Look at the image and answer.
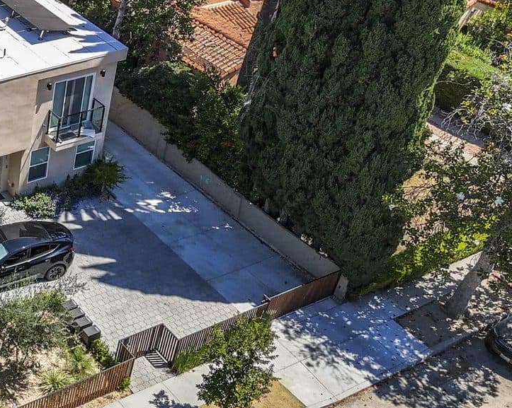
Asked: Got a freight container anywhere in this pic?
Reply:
No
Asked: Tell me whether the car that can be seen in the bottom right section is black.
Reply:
Yes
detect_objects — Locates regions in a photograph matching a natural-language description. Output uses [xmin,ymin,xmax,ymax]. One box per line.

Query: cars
[0,221,75,292]
[471,308,512,376]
